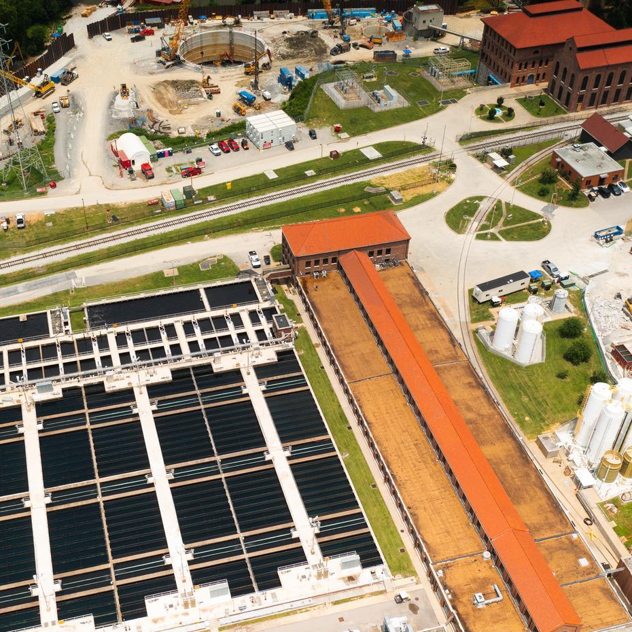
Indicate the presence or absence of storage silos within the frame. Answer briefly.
Yes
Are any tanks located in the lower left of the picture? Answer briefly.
No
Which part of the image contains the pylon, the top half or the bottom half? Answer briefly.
top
